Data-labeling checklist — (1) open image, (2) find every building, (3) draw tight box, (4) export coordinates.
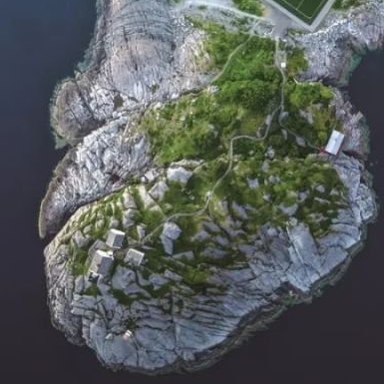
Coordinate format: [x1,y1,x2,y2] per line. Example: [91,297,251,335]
[125,248,144,266]
[89,250,114,277]
[107,229,126,248]
[325,130,345,155]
